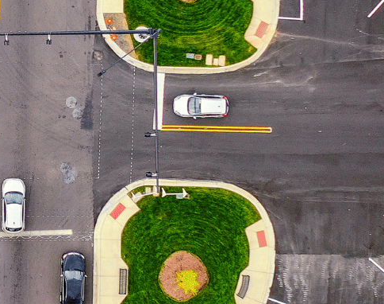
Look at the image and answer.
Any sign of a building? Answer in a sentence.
No, this view has no building in it.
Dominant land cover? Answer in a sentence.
The bulk of the photo consists of paved ground.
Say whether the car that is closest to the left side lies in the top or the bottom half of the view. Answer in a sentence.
You can find the car that is closest to the left side in the bottom half.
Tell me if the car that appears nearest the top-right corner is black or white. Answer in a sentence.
From above, the car that appears nearest the top-right corner appears white.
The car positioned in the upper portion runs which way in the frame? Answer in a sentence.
The car positioned in the upper portion runs from left to right in the image.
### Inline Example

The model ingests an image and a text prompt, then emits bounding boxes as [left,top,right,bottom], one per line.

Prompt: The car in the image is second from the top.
[0,177,28,234]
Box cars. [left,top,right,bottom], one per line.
[0,177,28,234]
[171,91,229,120]
[58,252,87,304]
